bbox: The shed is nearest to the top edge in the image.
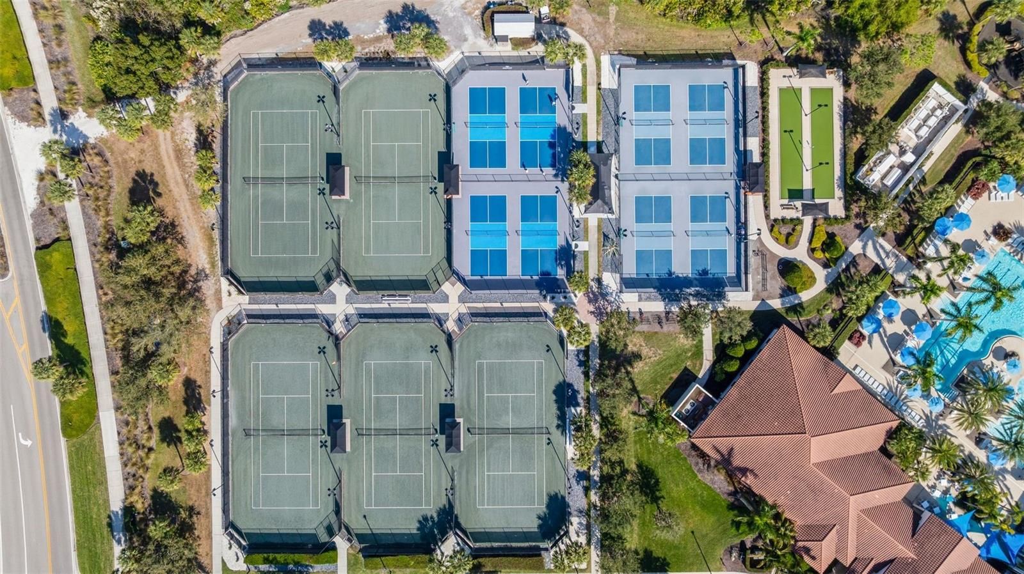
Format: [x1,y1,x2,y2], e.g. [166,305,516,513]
[494,9,534,40]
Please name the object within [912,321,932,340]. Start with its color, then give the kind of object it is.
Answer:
blue umbrella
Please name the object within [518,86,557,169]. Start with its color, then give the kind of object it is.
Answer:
blue sports court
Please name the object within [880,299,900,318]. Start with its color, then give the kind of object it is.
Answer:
blue umbrella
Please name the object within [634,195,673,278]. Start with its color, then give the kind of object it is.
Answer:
blue sports court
